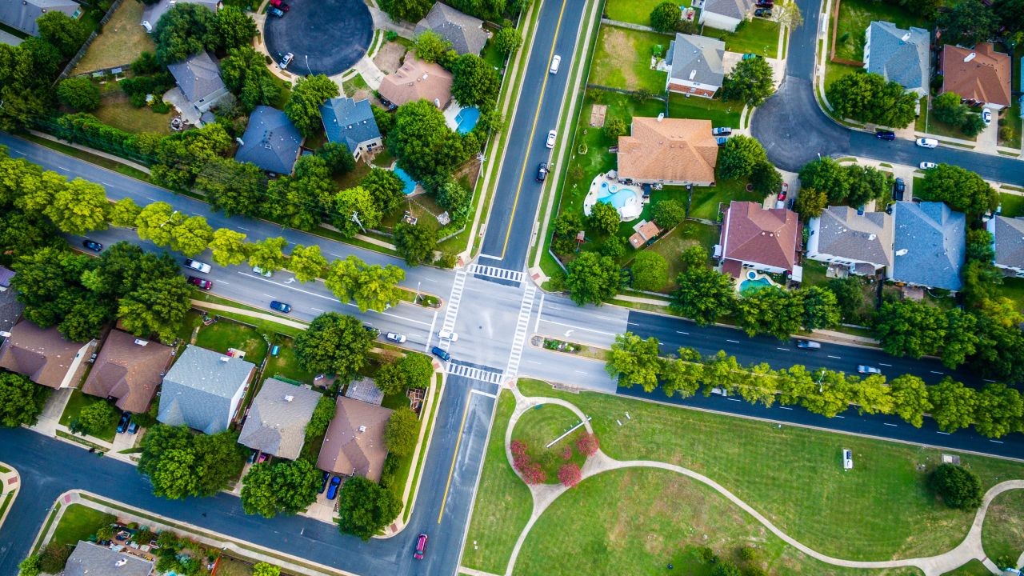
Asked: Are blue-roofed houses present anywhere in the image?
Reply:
Yes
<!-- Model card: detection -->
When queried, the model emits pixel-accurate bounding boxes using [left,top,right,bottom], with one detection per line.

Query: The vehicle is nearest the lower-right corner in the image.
[841,447,854,471]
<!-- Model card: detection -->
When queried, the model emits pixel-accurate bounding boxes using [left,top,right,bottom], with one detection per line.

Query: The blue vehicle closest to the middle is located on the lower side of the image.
[430,345,451,360]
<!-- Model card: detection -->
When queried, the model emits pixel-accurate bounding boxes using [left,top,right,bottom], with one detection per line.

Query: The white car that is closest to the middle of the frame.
[437,330,458,342]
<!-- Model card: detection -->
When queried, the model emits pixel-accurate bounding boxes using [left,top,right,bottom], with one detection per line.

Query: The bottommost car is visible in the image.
[414,534,427,558]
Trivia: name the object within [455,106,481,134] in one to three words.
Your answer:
swimming pool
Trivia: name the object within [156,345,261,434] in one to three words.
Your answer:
house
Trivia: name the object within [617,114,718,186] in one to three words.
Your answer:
house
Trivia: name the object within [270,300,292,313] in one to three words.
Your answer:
vehicle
